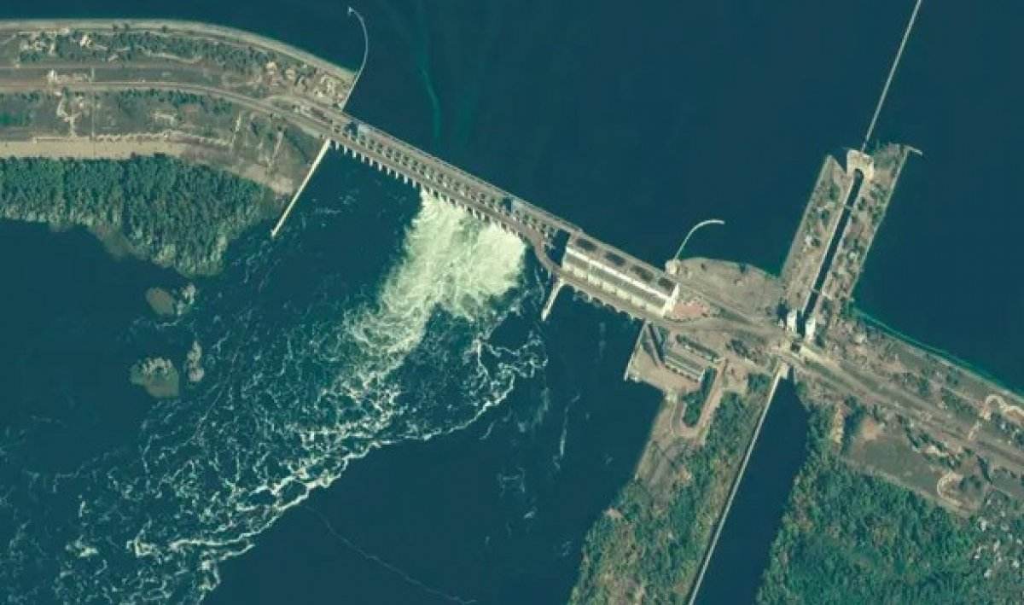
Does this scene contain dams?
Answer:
Yes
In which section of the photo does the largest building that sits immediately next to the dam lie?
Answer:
center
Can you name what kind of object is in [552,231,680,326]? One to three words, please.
building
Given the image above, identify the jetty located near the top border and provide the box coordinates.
[863,0,922,152]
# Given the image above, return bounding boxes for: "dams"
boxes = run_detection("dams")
[330,115,585,246]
